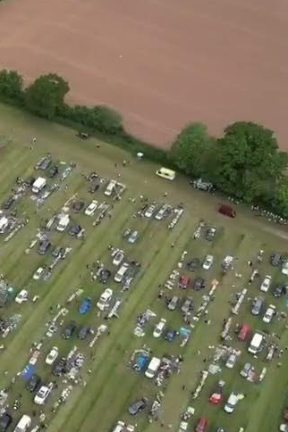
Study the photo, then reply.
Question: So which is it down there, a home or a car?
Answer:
car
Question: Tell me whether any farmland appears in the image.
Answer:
Yes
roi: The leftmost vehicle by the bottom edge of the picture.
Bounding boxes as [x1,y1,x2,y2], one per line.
[0,411,15,432]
